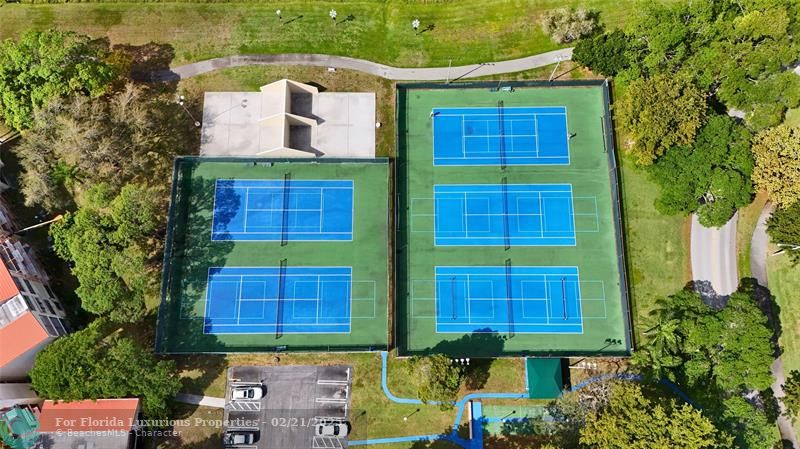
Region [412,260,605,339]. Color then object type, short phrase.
blue tennis court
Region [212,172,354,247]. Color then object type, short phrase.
blue tennis court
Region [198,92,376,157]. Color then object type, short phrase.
white sports court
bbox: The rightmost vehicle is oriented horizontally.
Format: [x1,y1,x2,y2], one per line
[316,422,348,438]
